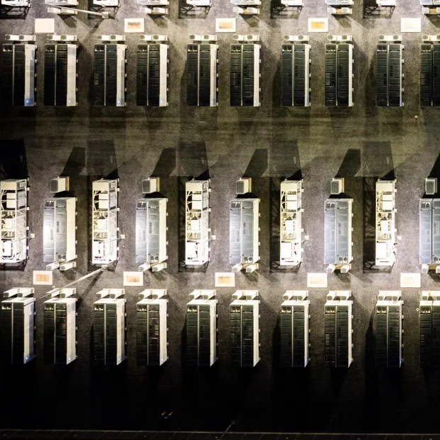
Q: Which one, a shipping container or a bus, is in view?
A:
shipping container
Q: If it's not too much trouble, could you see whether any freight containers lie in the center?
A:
Yes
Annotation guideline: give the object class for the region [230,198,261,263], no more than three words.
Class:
shipping container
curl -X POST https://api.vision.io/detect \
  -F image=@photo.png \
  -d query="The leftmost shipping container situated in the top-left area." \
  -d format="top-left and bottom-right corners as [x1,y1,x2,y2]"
[1,45,37,105]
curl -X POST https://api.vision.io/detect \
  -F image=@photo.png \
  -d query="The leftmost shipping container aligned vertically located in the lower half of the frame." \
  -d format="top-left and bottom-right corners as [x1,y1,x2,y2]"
[0,297,34,364]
